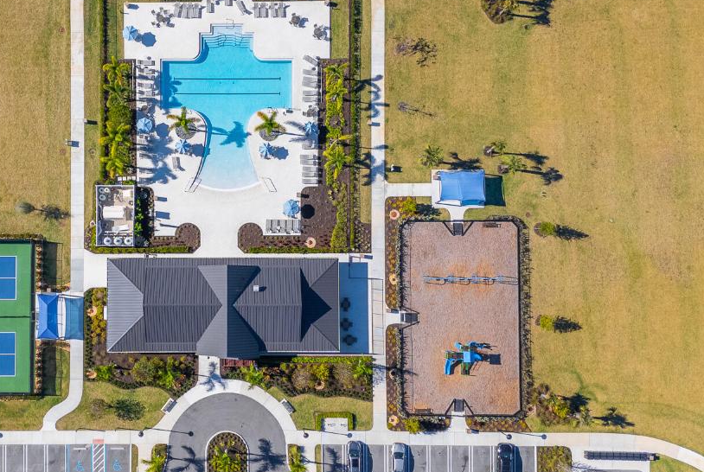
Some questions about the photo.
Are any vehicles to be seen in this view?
Yes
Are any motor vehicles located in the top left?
No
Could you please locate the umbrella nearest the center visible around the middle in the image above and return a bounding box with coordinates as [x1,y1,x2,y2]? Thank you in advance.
[285,199,300,215]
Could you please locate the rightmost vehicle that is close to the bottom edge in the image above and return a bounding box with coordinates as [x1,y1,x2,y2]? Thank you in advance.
[495,441,514,472]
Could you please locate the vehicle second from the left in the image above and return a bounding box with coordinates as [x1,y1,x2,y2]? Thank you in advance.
[391,441,407,472]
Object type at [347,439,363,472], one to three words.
car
